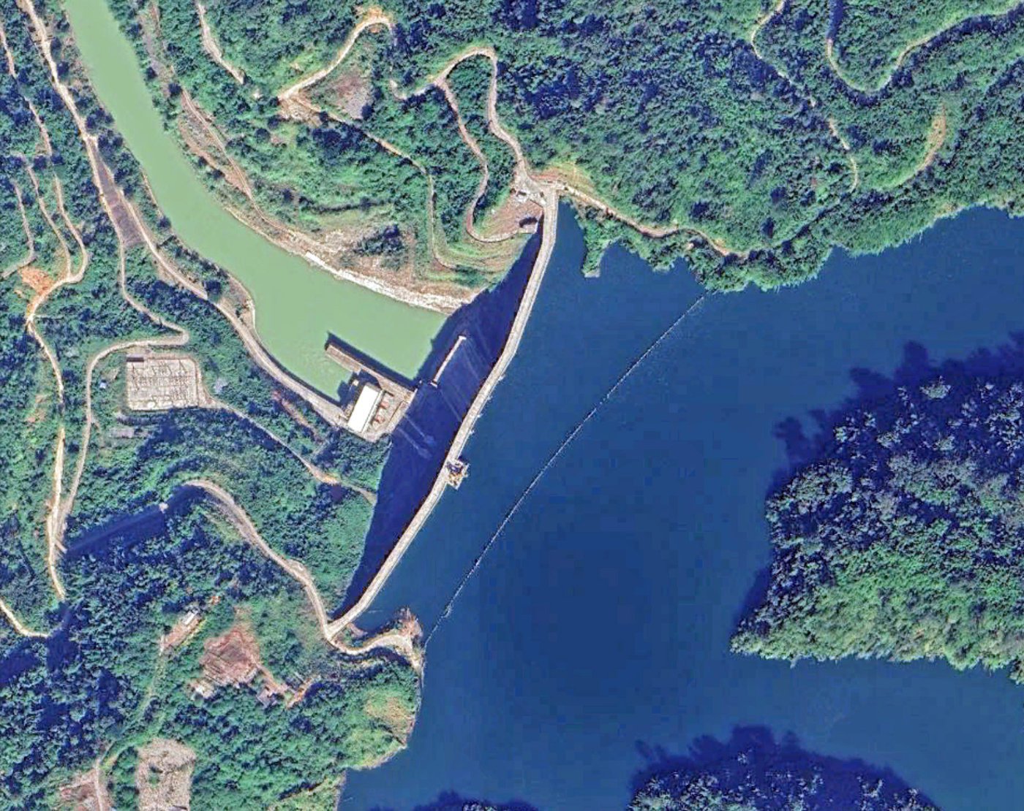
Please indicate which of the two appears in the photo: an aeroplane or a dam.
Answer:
dam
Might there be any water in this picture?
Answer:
Yes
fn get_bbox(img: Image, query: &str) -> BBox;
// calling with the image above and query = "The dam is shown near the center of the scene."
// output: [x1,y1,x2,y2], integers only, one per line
[331,189,559,635]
